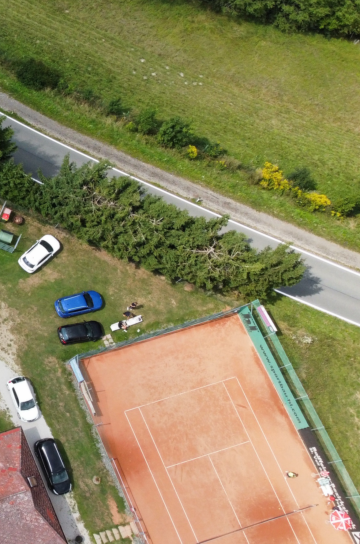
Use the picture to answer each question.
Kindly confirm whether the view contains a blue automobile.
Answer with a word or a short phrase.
Yes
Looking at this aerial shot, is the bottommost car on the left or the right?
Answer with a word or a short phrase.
left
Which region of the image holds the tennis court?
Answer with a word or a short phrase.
bottom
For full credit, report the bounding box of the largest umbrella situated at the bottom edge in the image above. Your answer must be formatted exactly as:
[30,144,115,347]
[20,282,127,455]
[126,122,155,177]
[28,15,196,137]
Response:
[324,509,353,534]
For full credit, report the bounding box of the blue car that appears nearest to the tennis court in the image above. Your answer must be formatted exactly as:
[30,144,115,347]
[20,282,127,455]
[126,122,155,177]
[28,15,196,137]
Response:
[53,289,104,317]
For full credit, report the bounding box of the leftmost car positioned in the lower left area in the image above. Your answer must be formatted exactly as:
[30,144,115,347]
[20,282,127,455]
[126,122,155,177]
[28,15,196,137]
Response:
[6,374,39,424]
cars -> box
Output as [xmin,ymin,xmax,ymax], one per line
[56,319,105,347]
[19,233,59,276]
[6,374,39,424]
[36,438,72,495]
[53,289,104,317]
